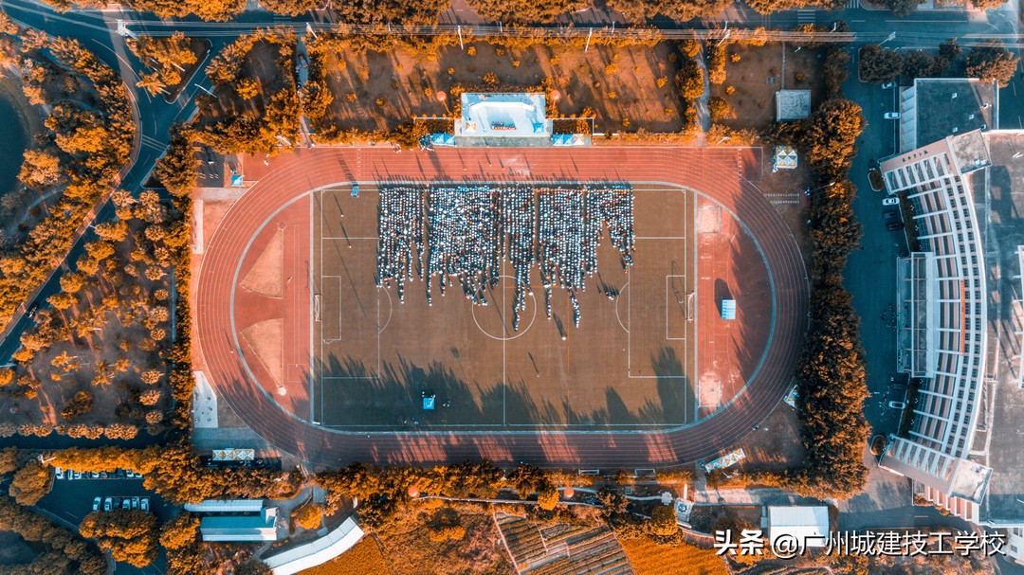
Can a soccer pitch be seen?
Yes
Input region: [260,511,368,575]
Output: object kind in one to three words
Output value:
shed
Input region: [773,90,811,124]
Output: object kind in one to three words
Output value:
shed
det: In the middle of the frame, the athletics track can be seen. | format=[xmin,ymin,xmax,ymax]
[196,147,811,466]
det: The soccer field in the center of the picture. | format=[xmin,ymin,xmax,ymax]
[310,185,698,430]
